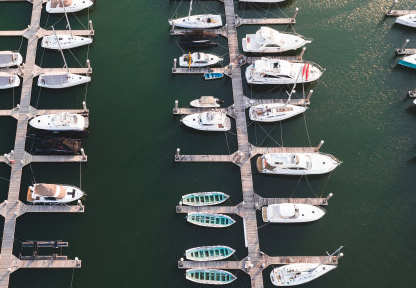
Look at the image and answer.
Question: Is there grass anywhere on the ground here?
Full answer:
No, no grass is visible.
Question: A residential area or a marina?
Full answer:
The picture captures a marina.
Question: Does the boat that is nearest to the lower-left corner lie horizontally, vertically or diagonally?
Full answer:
I'd say the boat that is nearest to the lower-left corner is aligned horizontally in the picture.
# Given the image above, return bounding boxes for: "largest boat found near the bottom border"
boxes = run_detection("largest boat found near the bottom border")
[267,248,353,284]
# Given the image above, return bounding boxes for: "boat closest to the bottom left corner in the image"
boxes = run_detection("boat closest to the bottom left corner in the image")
[28,186,85,207]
